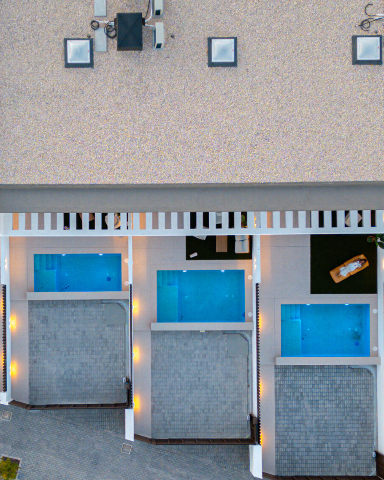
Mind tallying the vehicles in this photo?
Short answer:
none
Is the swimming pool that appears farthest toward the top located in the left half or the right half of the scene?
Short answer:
left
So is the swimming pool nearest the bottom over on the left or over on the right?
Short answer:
right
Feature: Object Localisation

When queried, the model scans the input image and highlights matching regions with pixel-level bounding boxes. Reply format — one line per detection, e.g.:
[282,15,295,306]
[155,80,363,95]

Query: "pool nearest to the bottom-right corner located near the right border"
[274,304,378,365]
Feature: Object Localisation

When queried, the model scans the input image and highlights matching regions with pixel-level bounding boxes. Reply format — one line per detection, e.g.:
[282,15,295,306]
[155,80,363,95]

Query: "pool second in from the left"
[151,270,252,330]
